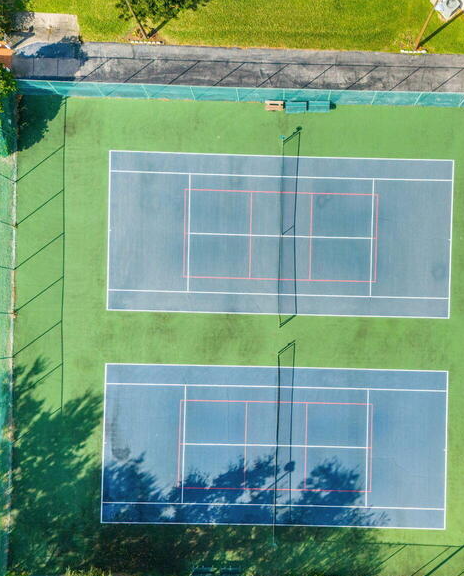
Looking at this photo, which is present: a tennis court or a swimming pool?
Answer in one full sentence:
There is a tennis court in the scene.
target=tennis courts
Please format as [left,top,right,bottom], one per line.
[107,151,453,318]
[102,364,447,528]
